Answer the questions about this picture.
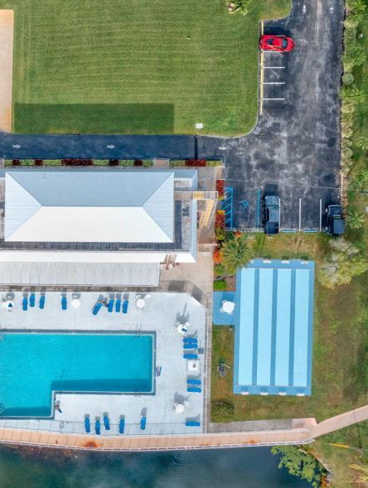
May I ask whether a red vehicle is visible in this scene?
Yes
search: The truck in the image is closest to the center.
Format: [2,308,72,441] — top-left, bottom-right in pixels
[261,195,284,235]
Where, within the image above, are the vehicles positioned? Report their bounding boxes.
[259,33,295,51]
[261,195,284,235]
[322,203,345,236]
